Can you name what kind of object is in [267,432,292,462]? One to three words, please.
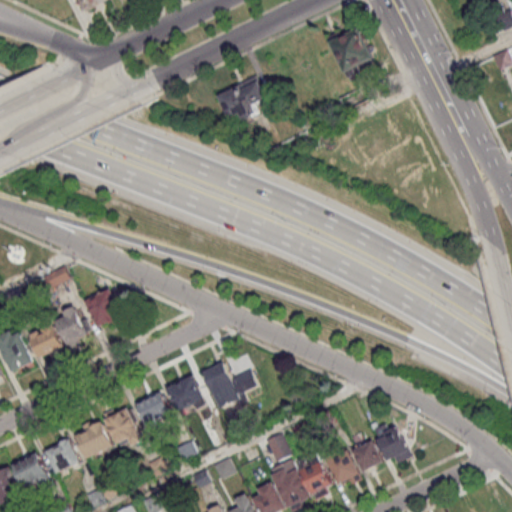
building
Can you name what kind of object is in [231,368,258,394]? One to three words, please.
building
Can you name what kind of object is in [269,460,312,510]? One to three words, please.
house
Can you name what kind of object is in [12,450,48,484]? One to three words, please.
house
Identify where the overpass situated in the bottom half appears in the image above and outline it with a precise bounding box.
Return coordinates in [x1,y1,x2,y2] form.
[476,238,512,415]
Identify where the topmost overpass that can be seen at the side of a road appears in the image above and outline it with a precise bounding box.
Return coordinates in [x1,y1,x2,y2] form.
[0,62,164,178]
